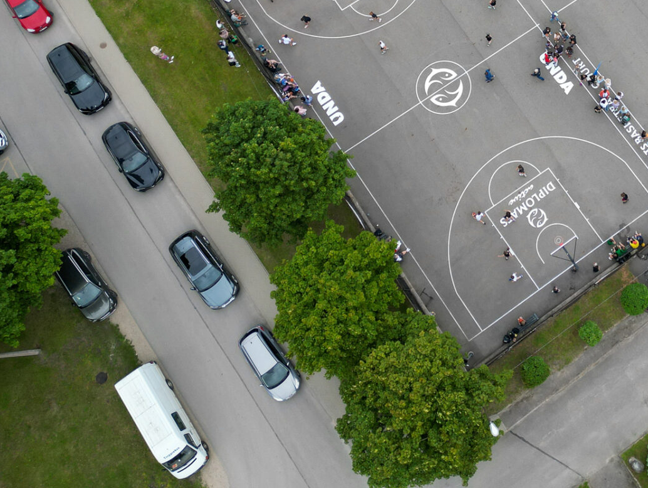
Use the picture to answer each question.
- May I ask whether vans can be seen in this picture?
Yes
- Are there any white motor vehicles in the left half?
Yes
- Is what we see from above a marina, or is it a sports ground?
sports ground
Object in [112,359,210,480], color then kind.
white van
